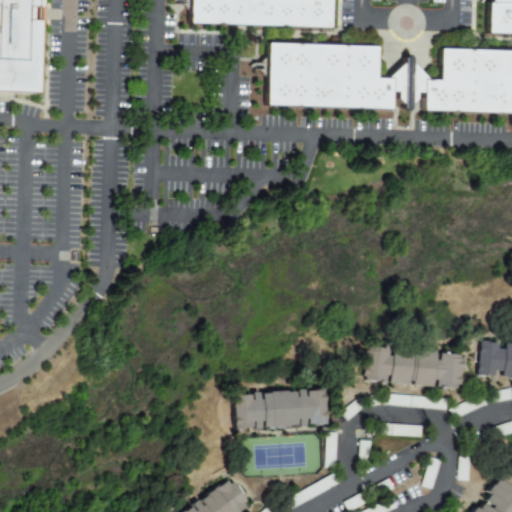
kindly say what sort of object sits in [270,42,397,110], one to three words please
building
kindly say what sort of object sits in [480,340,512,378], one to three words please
building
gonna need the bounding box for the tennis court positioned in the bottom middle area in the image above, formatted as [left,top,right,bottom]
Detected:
[243,434,322,478]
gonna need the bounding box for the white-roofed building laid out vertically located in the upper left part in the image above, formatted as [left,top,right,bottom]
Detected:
[0,0,46,92]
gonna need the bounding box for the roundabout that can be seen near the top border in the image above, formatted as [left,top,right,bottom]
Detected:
[388,4,426,42]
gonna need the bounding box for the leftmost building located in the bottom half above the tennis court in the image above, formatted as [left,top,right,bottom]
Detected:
[235,388,330,432]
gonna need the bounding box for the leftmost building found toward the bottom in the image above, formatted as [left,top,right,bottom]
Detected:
[183,478,254,512]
